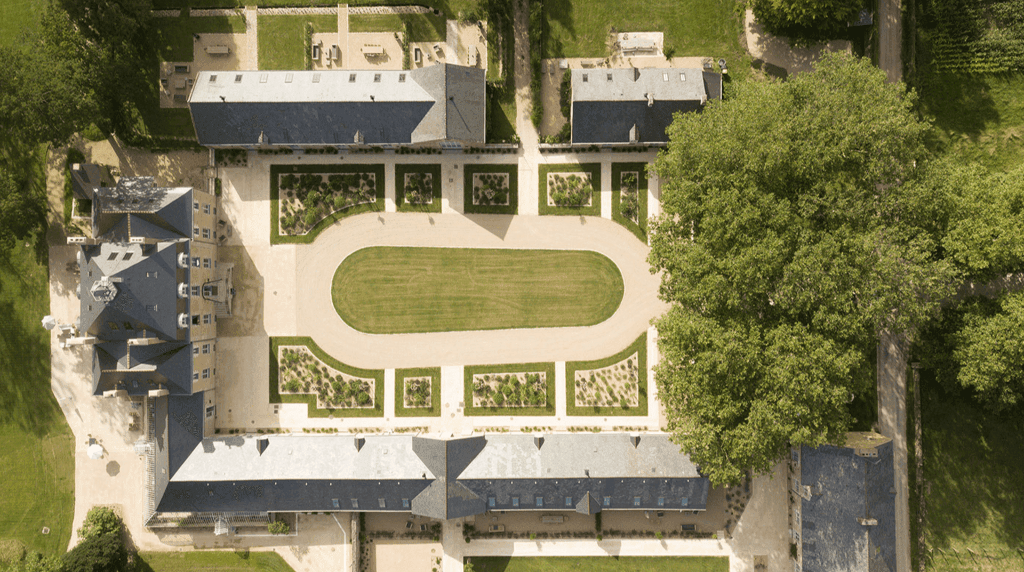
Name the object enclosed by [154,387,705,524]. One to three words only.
building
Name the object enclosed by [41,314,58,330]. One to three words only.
umbrella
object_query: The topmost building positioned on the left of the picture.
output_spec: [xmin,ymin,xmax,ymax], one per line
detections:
[187,61,487,148]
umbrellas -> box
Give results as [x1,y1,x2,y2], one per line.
[88,444,104,459]
[41,314,58,330]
